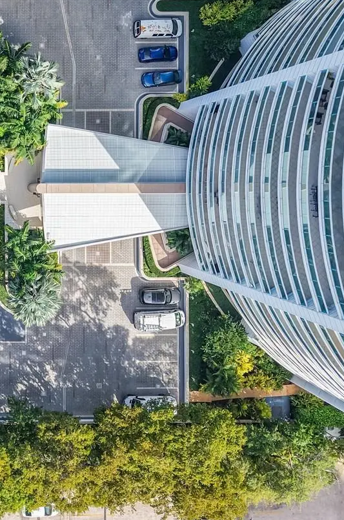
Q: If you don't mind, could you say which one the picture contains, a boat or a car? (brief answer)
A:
car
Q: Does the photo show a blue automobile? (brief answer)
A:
Yes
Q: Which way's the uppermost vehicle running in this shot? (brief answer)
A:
from side to side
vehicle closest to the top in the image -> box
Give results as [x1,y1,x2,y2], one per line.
[133,17,181,38]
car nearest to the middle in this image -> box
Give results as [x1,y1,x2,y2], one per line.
[139,287,178,306]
